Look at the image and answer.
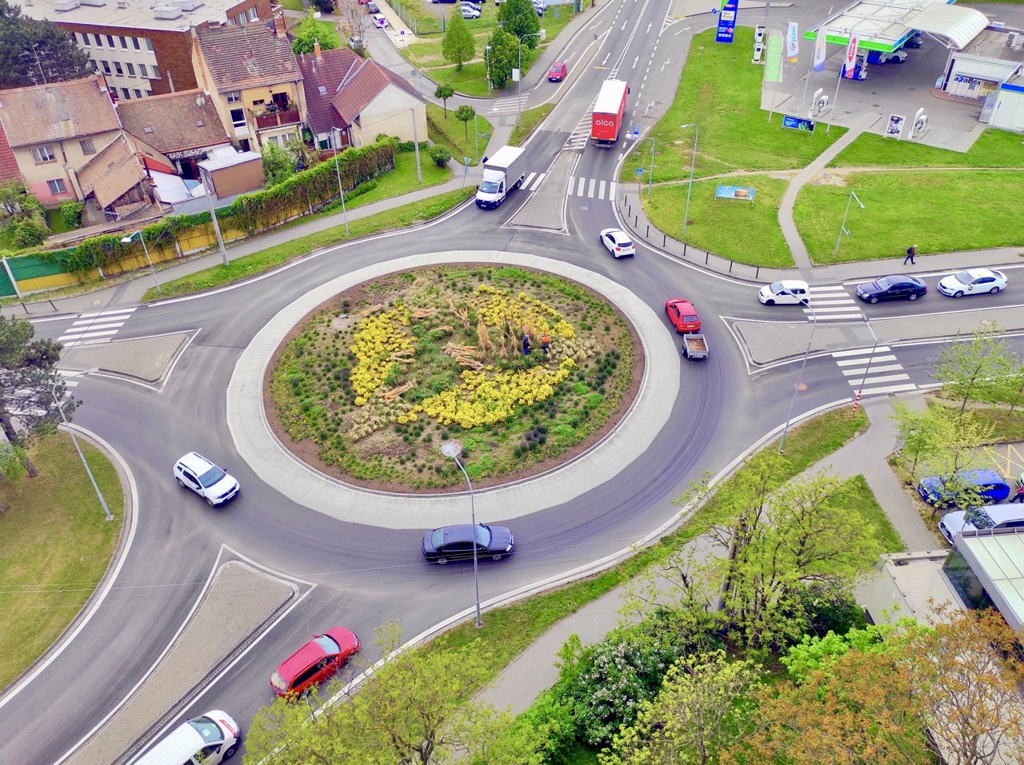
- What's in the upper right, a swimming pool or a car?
car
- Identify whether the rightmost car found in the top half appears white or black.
white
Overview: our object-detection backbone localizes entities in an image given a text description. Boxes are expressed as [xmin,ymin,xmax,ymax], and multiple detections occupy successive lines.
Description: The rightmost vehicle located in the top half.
[937,266,1009,297]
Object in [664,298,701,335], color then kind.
red car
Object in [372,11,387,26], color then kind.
white car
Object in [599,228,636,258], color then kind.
white car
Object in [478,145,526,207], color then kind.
white truck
